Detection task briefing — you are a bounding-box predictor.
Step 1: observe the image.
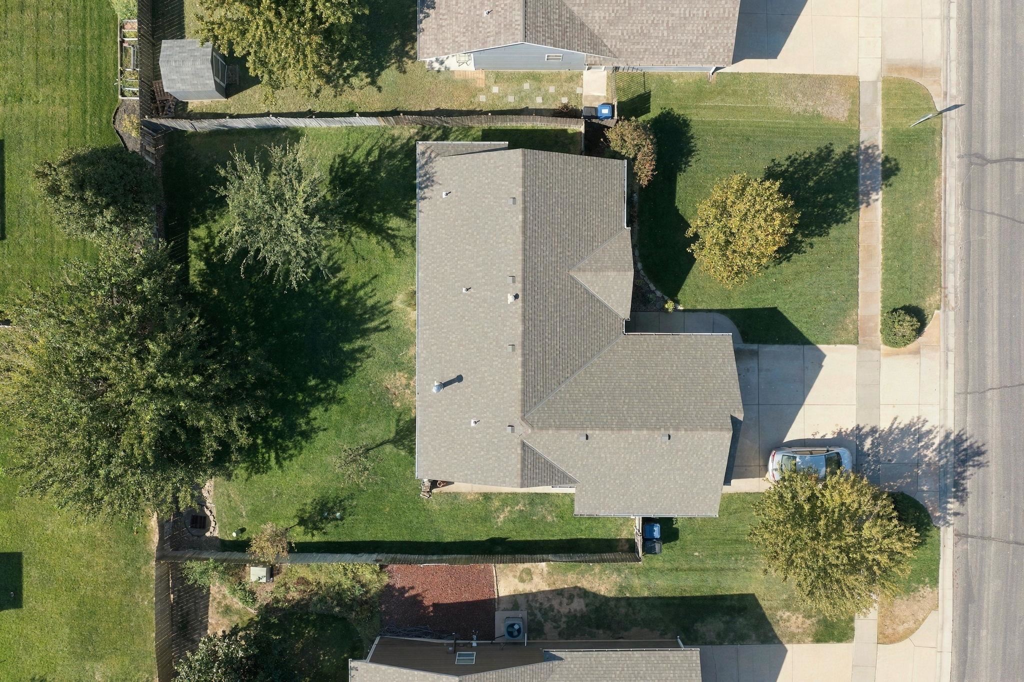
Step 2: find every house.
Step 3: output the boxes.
[349,631,703,682]
[418,0,741,80]
[417,142,745,516]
